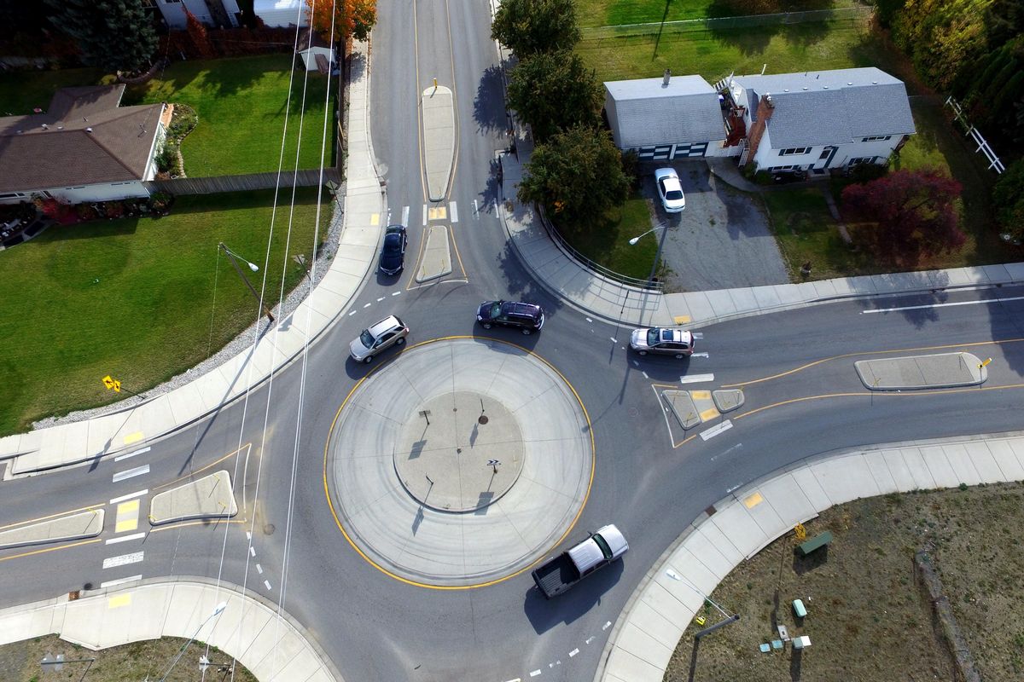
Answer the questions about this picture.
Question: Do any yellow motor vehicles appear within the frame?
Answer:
No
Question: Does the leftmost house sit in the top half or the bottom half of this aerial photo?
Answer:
top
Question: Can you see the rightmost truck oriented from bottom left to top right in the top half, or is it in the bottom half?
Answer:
bottom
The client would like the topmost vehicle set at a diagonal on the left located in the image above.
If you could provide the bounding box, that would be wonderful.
[349,315,412,365]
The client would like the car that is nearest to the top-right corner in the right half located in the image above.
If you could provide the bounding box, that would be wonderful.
[652,170,686,218]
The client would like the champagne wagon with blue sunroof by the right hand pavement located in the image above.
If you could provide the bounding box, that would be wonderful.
[629,327,696,361]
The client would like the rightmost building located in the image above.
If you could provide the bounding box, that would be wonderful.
[734,58,916,191]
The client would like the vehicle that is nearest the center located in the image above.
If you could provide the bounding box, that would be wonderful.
[477,299,546,334]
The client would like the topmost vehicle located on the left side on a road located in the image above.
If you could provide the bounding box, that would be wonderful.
[377,229,407,282]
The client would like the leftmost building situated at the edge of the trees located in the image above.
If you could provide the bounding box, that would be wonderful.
[0,83,170,207]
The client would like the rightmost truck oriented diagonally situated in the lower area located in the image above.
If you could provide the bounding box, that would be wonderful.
[531,526,629,604]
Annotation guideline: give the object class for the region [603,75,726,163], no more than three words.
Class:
building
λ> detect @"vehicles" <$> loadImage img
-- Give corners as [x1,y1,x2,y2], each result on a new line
[531,526,629,604]
[652,170,686,218]
[349,315,412,365]
[377,229,407,282]
[629,327,696,361]
[477,299,546,334]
